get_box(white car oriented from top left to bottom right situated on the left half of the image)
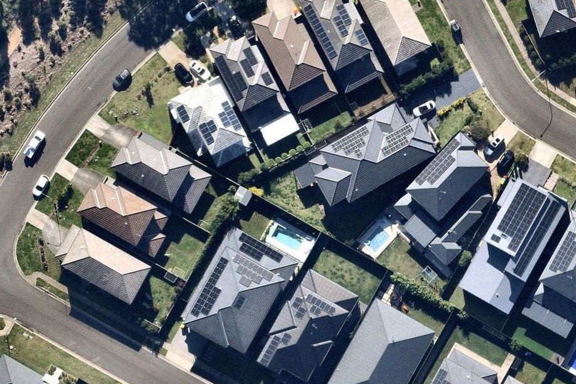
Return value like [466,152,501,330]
[189,58,210,82]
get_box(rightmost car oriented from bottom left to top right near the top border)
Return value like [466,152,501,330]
[184,0,209,22]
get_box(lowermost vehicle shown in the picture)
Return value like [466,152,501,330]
[31,175,50,198]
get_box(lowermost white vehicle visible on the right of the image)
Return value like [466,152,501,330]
[483,132,505,157]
